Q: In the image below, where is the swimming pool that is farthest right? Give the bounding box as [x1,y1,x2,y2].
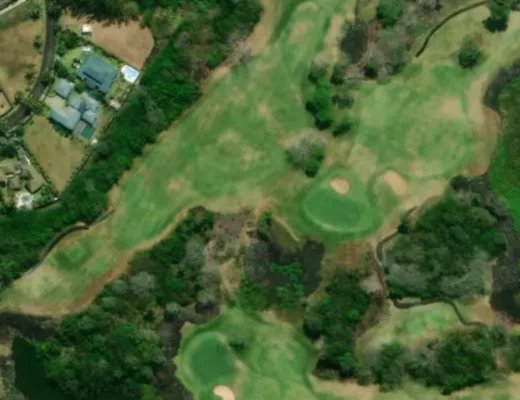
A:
[121,64,140,82]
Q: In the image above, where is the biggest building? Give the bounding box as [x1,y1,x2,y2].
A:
[76,53,117,93]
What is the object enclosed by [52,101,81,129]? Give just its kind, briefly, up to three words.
house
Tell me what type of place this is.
golf course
